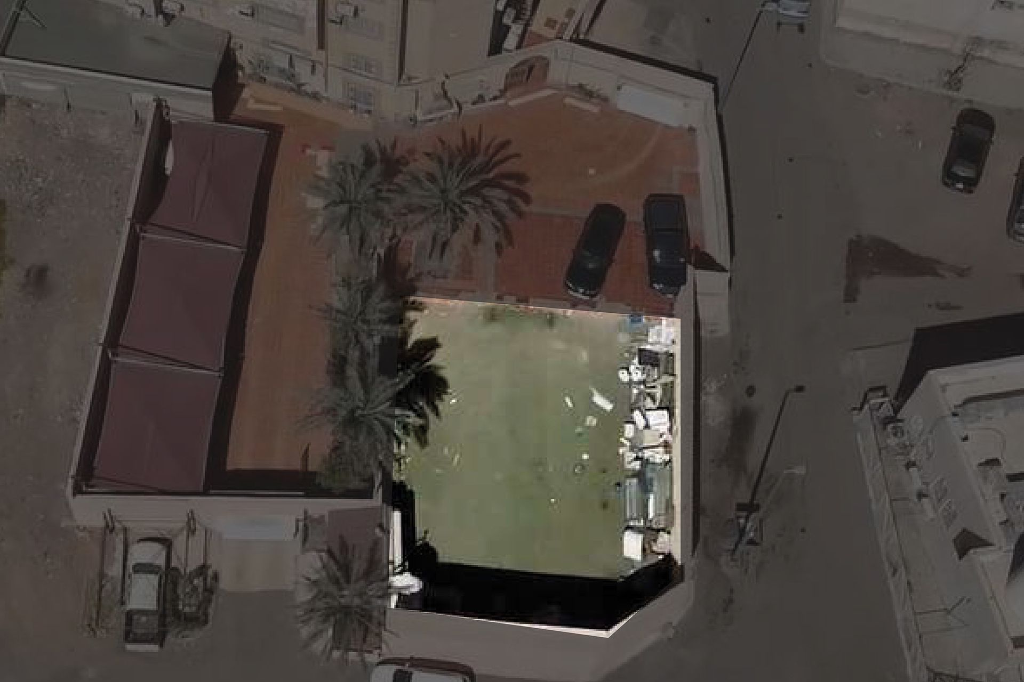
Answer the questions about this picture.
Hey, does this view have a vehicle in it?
Yes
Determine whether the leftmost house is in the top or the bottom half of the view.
top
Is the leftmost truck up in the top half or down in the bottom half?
bottom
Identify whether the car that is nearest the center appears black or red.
black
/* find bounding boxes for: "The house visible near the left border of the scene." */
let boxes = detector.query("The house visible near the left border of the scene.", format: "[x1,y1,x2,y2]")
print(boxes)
[0,0,232,124]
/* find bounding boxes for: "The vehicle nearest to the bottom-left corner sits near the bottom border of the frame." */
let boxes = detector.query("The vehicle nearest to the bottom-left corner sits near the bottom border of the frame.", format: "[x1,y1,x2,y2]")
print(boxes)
[123,539,168,656]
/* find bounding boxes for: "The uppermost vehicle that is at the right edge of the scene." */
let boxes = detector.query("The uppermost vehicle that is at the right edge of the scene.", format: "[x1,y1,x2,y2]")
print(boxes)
[942,108,992,190]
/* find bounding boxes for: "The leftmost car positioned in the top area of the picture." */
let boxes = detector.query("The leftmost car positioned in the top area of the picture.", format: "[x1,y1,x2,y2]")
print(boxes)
[567,205,627,298]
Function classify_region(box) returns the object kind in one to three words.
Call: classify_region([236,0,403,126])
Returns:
house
